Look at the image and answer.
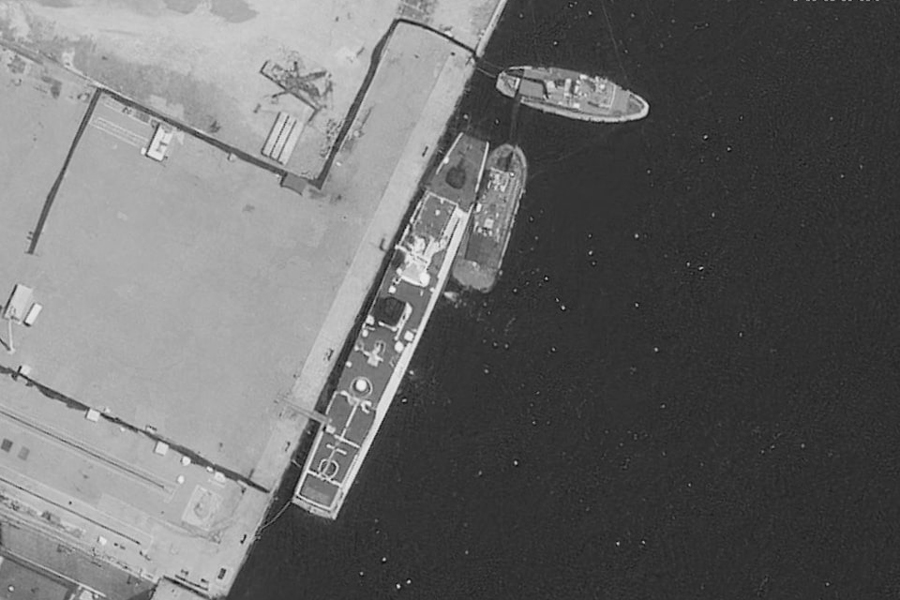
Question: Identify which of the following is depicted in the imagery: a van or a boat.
boat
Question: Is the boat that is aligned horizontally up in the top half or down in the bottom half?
top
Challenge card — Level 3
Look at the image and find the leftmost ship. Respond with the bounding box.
[294,133,490,518]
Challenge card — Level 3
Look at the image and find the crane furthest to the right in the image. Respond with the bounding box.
[237,59,337,122]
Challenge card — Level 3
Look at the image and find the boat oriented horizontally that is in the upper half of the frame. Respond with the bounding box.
[496,65,650,124]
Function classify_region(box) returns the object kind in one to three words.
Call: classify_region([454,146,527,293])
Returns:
boat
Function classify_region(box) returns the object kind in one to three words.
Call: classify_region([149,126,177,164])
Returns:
building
